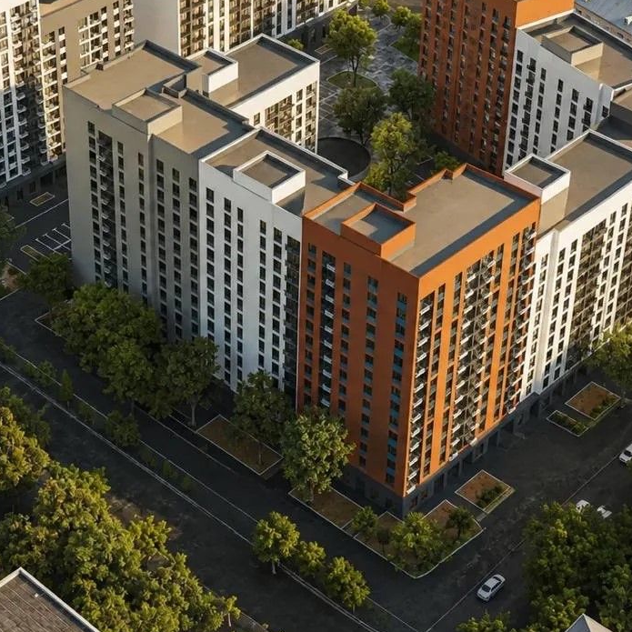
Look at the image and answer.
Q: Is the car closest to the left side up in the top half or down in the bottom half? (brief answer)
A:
bottom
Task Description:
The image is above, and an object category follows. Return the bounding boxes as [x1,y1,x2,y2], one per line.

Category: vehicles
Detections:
[591,501,614,516]
[618,442,632,464]
[477,574,502,597]
[569,496,594,515]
